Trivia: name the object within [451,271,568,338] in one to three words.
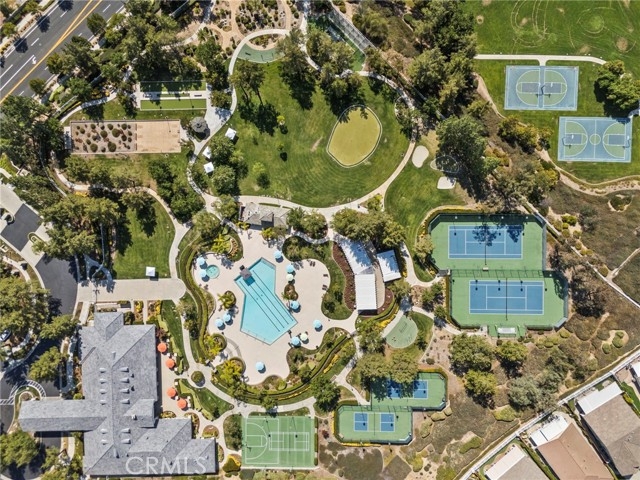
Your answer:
tennis court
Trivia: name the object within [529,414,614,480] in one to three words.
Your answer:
house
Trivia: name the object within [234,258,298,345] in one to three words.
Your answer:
swimming pool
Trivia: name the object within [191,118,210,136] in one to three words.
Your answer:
gazebo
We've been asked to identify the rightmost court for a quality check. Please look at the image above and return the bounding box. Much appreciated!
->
[556,116,635,164]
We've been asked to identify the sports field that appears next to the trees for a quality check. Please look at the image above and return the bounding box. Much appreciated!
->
[449,0,640,183]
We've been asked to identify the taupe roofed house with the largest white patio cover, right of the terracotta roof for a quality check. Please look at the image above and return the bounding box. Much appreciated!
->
[574,381,640,479]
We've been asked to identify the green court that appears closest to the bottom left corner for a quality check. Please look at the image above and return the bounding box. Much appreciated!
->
[241,416,314,468]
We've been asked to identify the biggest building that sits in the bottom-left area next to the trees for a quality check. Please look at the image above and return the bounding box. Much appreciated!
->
[19,312,216,476]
